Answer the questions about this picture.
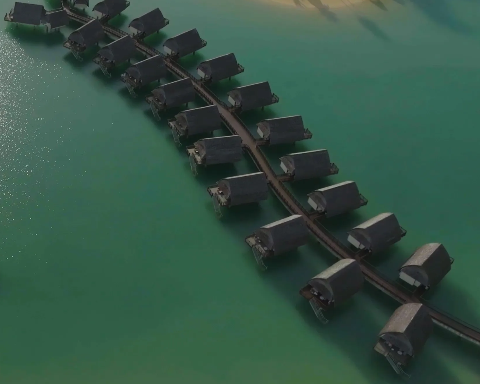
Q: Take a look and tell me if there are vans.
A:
No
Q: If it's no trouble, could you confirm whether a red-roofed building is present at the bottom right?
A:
No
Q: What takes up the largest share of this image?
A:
water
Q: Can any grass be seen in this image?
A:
No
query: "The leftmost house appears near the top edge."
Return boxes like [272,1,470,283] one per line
[1,1,47,31]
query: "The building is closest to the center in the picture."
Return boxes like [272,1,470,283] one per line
[200,170,268,214]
